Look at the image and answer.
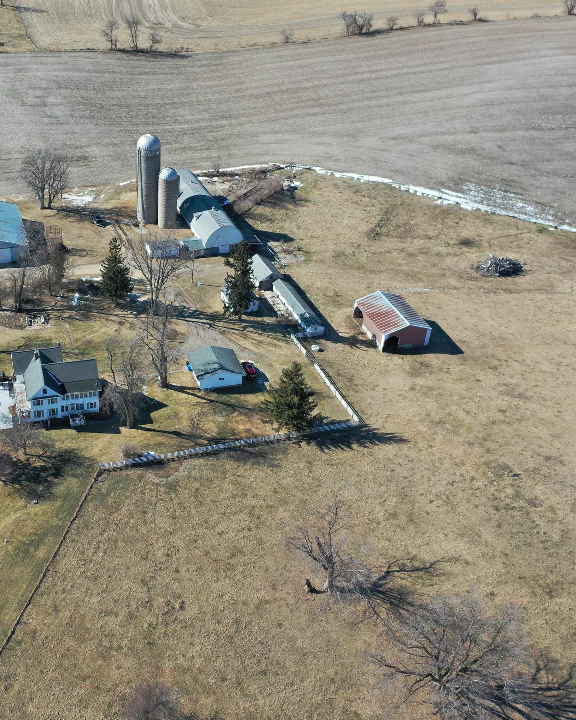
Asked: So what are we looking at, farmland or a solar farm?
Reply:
farmland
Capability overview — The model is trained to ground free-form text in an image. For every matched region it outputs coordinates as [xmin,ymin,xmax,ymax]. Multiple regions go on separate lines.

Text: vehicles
[242,364,258,381]
[92,213,103,225]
